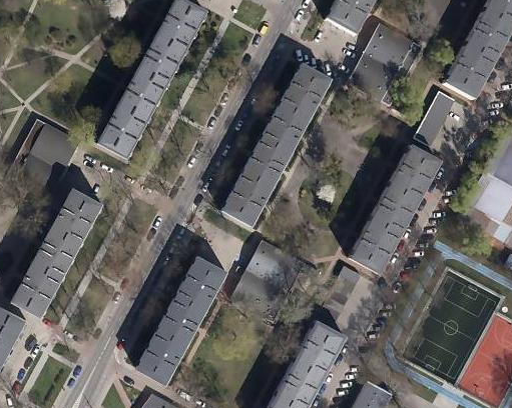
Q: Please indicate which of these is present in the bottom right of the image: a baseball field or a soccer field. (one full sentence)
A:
The feature located in the bottom right of the image is a soccer field.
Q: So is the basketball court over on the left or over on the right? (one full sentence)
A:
The basketball court is on the right side of the image.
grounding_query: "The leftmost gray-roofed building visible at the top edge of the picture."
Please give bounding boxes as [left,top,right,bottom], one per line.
[97,0,208,163]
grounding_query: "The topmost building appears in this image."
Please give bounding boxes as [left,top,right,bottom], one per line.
[327,0,378,37]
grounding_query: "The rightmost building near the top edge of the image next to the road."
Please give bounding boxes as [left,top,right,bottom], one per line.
[444,0,512,102]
